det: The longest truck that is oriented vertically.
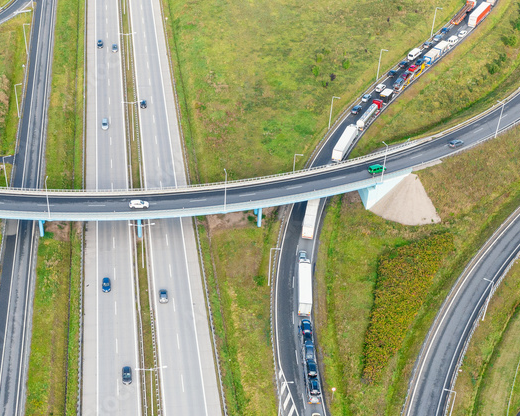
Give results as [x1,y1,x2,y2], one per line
[298,323,323,407]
